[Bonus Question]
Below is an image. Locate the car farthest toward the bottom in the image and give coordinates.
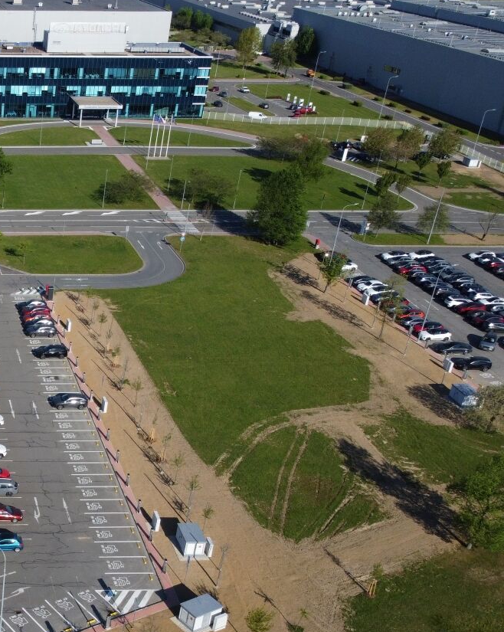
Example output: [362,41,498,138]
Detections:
[0,530,32,552]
